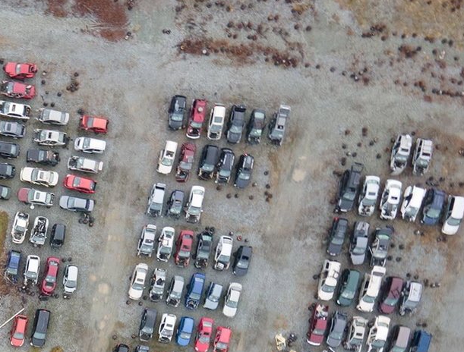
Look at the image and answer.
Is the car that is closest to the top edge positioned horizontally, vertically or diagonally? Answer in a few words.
horizontally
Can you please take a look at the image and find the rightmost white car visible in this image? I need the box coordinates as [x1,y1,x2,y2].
[439,194,464,236]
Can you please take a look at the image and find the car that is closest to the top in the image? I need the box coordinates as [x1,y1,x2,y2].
[1,62,38,82]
